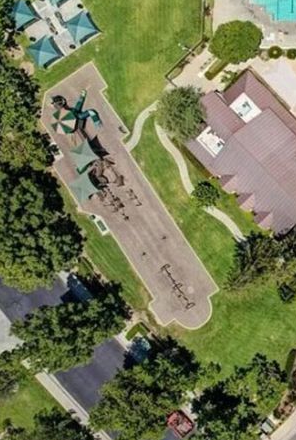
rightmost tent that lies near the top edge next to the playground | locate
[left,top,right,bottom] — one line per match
[65,11,107,45]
